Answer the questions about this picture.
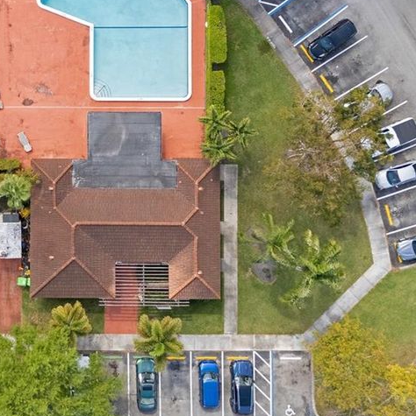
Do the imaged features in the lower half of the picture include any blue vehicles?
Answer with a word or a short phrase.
Yes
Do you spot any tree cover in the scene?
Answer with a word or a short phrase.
Yes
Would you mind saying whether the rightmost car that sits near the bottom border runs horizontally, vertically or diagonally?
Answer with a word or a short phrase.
vertically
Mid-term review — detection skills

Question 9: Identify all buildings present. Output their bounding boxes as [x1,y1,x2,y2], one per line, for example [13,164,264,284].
[29,110,222,307]
[0,213,21,259]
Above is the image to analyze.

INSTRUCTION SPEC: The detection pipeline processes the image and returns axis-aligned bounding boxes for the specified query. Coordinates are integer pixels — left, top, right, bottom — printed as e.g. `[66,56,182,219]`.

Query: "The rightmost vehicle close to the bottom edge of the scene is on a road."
[227,357,255,415]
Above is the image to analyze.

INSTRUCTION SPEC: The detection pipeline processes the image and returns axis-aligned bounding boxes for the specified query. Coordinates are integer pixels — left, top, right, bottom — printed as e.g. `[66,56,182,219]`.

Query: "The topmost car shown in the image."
[303,18,360,62]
